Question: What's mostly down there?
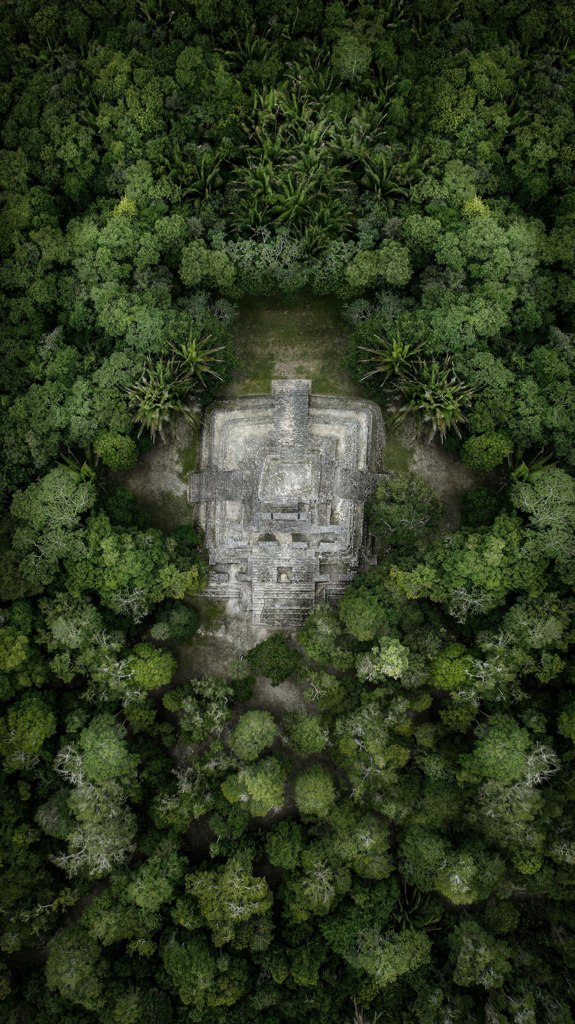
trees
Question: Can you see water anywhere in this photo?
No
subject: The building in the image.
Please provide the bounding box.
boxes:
[189,378,391,630]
